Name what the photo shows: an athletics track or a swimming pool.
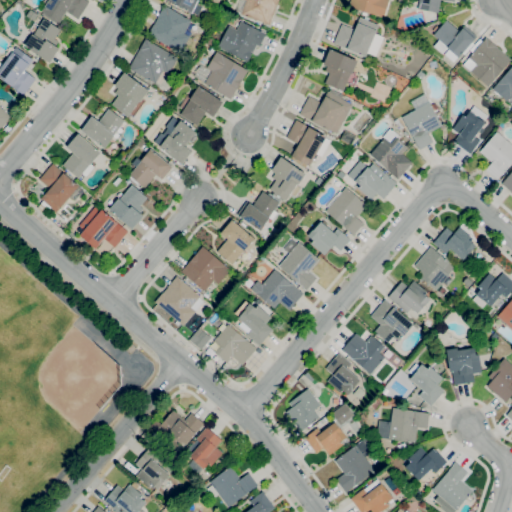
swimming pool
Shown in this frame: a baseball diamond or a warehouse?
baseball diamond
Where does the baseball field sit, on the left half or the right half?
left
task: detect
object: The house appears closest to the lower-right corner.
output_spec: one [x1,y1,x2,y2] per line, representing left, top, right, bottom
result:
[433,463,475,512]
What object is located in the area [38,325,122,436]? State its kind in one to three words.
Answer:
baseball field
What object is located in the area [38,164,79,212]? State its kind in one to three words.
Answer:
house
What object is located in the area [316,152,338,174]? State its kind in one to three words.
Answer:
swimming pool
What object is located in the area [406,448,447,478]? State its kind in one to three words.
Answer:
house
